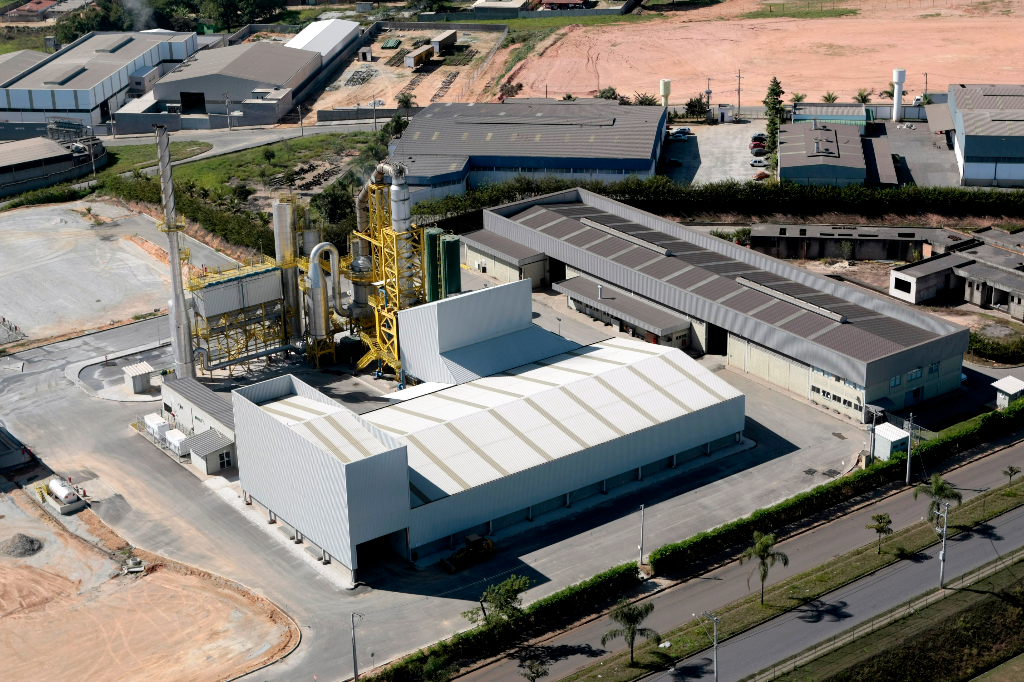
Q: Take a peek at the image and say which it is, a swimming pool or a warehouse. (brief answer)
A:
warehouse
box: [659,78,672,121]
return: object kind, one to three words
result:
water tower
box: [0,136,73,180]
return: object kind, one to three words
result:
building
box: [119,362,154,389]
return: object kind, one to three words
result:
shed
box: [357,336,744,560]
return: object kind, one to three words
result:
warehouse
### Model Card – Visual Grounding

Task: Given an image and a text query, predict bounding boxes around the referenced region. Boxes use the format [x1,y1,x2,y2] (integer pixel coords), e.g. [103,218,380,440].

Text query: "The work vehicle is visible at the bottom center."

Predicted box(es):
[440,535,498,580]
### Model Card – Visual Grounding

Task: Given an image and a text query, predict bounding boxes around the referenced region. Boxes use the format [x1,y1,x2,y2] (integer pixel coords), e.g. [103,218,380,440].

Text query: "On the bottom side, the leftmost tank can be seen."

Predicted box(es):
[20,467,86,513]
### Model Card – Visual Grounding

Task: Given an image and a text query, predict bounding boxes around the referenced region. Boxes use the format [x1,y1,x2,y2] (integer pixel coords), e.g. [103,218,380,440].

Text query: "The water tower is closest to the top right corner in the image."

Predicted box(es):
[891,66,908,121]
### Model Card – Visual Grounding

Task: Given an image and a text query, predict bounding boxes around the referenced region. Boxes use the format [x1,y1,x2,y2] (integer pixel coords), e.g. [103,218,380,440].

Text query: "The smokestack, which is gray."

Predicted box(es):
[154,124,199,377]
